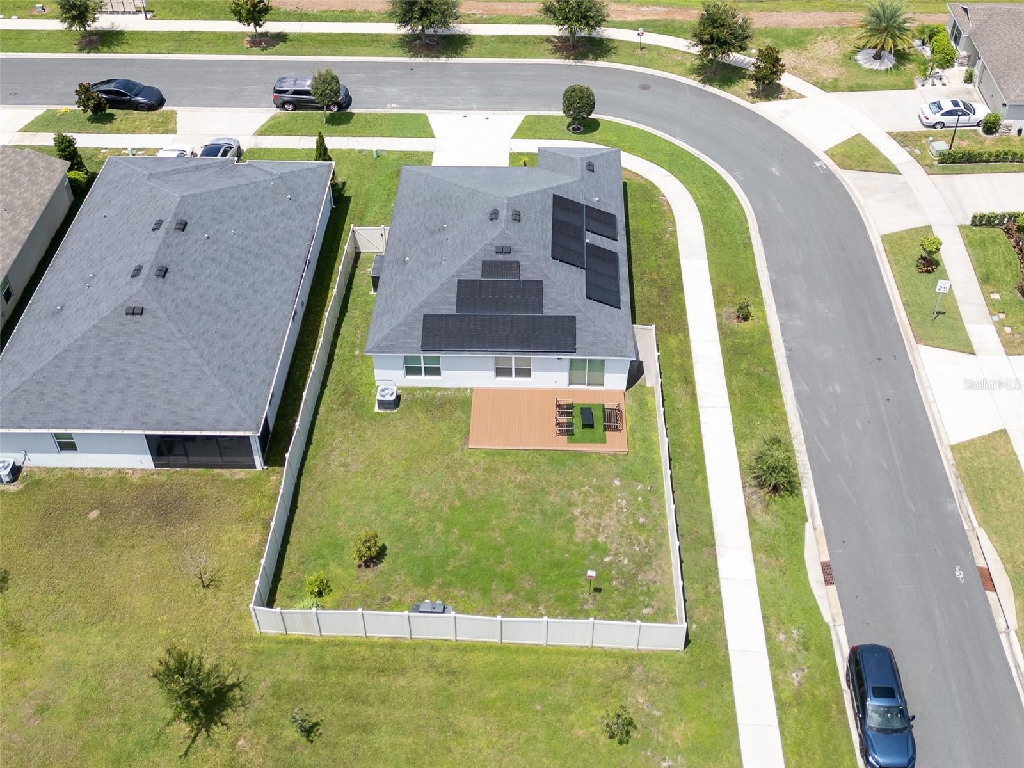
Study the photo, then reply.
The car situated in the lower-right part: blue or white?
blue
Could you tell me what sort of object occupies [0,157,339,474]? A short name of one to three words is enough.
house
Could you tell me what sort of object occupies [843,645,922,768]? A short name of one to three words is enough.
car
